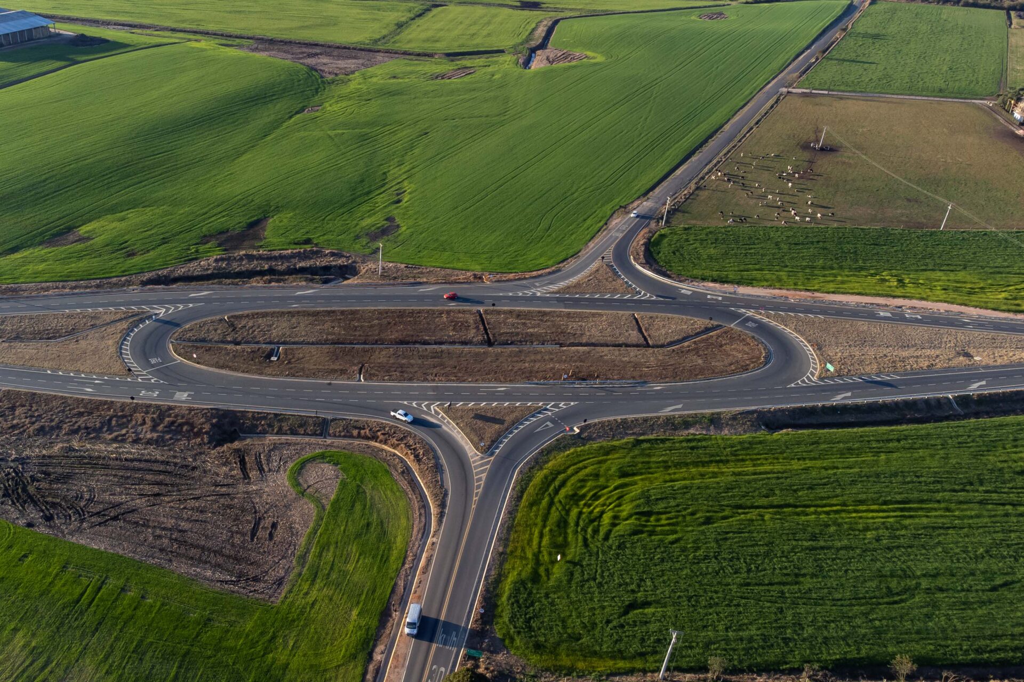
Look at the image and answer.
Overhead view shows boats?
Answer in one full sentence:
No, no boat can be seen from above.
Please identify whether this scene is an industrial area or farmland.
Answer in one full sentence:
The area seen from above is farmland.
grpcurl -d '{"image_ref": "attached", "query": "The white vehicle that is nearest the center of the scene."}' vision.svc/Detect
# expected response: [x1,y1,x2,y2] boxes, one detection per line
[390,409,413,424]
